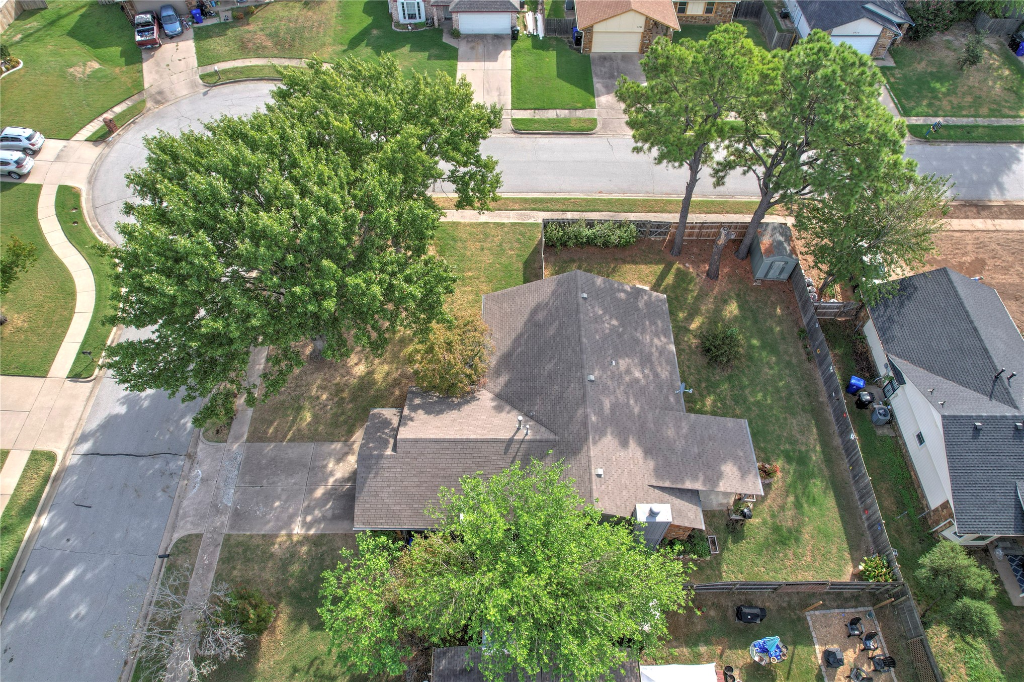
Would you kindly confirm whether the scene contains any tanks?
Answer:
No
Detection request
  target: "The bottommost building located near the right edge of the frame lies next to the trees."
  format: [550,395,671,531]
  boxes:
[850,267,1024,551]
